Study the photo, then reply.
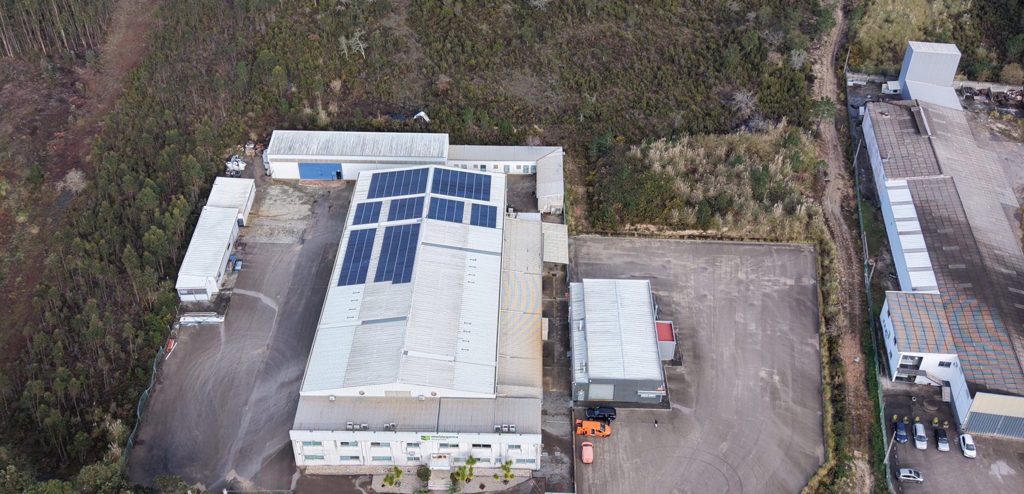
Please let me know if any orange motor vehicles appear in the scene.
Yes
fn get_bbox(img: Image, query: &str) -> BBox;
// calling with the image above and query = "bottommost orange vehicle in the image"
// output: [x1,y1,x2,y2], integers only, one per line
[578,419,611,437]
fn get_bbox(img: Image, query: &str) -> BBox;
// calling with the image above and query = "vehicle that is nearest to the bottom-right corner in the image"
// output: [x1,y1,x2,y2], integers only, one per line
[959,434,977,458]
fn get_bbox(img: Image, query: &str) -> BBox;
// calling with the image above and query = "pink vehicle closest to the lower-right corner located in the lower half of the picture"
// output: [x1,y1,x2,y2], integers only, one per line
[580,442,594,464]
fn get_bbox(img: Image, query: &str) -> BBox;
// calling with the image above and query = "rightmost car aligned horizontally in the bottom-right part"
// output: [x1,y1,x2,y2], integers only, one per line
[894,468,925,483]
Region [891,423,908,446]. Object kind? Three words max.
car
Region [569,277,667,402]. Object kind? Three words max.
building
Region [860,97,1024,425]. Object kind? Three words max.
building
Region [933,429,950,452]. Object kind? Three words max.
car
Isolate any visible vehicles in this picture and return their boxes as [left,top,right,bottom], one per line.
[911,425,928,450]
[894,468,925,483]
[578,419,611,437]
[959,434,977,458]
[933,429,950,452]
[586,407,616,422]
[891,423,908,446]
[580,442,594,464]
